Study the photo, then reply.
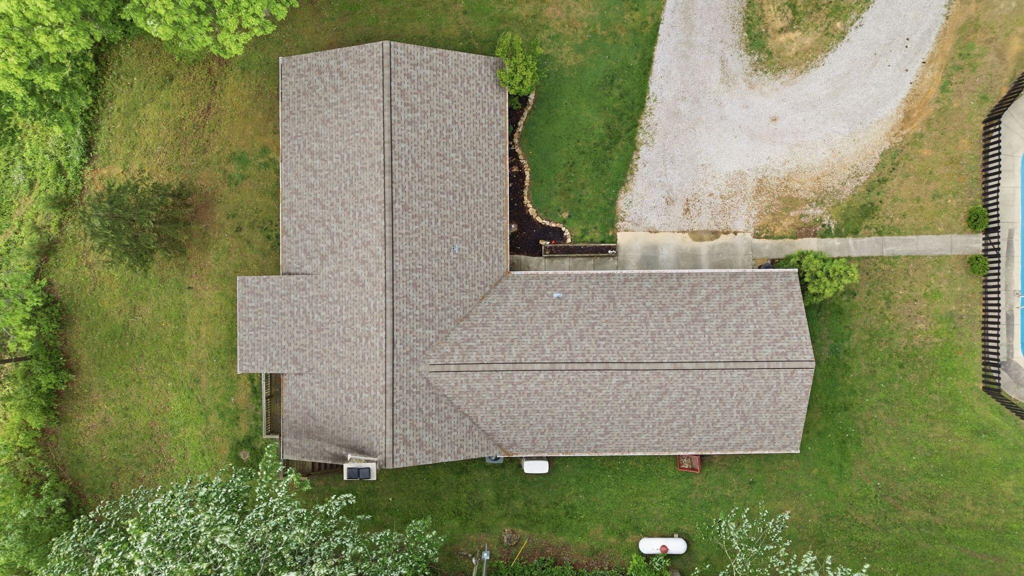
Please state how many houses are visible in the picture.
one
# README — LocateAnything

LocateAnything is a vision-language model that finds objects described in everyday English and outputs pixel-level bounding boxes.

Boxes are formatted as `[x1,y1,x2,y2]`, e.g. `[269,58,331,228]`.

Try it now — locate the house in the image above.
[235,42,814,481]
